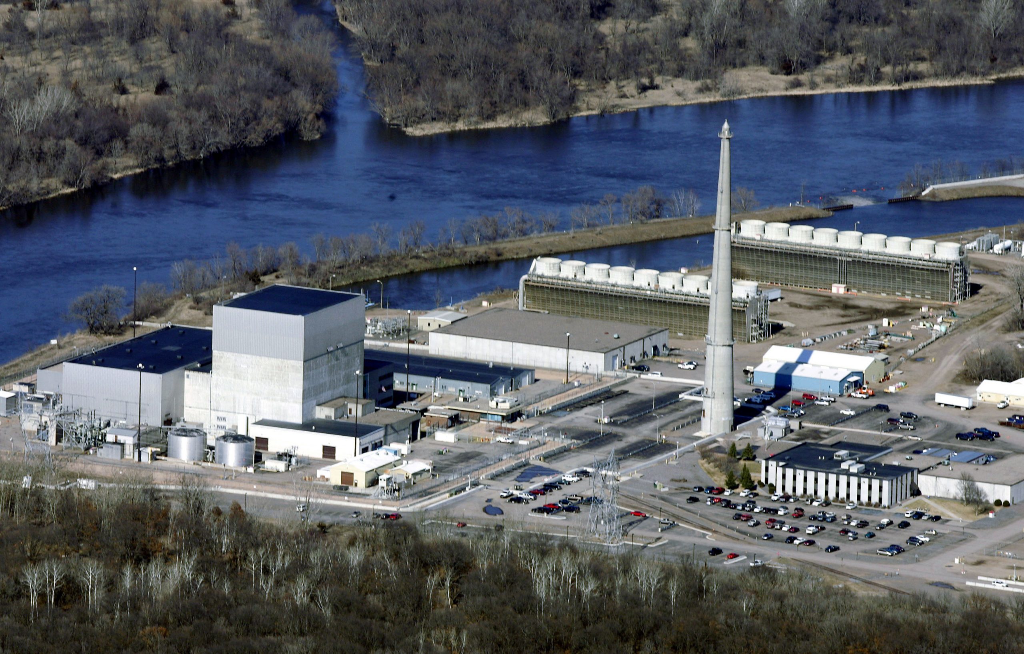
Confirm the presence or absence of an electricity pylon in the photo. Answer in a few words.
Yes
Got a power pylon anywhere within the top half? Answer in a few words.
No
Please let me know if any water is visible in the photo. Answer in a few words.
Yes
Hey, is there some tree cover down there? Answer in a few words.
Yes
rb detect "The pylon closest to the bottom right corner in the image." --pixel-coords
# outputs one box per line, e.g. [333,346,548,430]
[581,442,623,542]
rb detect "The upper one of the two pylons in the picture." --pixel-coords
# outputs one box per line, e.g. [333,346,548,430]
[23,377,66,467]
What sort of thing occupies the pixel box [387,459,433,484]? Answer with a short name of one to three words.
shed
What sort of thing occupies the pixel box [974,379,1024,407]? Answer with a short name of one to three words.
building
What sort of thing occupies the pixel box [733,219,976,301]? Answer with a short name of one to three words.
cooling tower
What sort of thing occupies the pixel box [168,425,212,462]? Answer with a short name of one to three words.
storage tank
